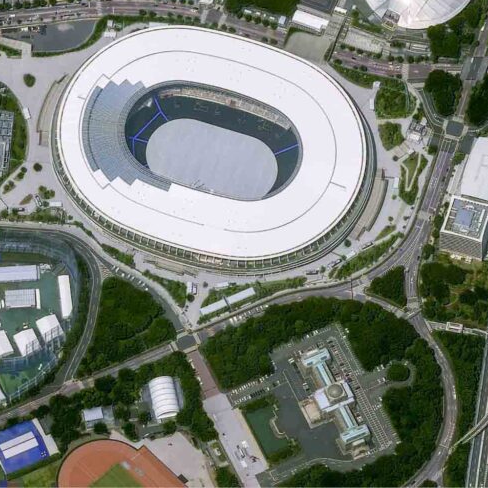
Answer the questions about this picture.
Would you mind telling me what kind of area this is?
sports ground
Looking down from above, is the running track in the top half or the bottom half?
bottom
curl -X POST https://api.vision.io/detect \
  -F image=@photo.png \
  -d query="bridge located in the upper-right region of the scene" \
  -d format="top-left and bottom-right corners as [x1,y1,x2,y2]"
[459,45,488,90]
